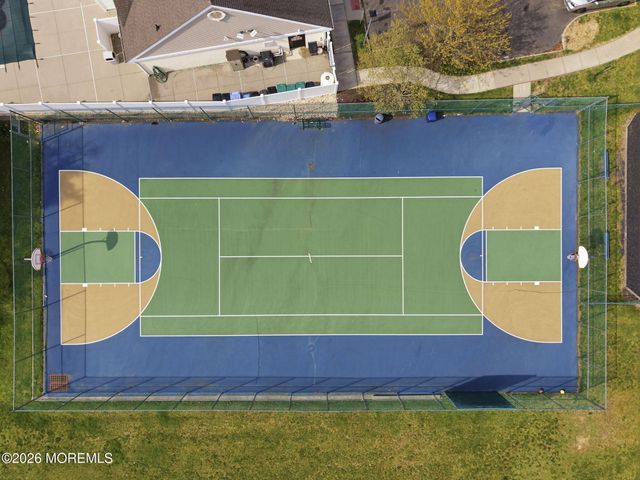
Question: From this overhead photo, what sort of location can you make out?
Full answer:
It's a sports ground.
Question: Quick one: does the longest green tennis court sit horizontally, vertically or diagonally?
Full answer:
The longest green tennis court is oriented horizontally.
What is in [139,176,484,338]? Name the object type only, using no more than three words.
tennis court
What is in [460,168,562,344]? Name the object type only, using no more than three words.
basketball court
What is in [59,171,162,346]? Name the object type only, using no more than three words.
basketball court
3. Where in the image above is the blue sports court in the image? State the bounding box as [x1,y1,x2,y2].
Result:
[42,112,579,393]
